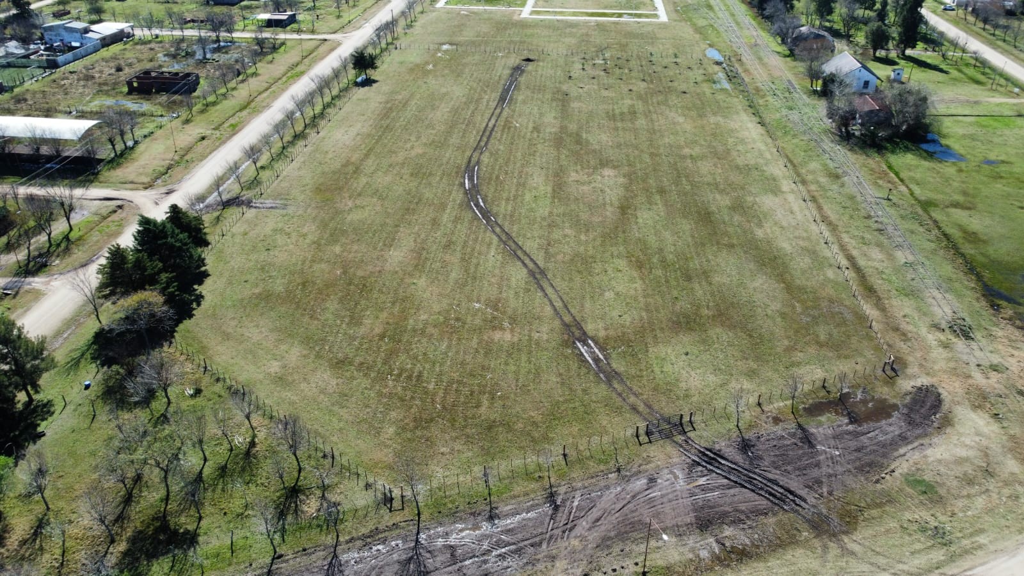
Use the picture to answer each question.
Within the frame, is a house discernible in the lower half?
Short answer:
No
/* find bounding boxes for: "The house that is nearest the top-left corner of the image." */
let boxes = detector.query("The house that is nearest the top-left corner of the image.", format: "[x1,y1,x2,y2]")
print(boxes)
[32,17,102,45]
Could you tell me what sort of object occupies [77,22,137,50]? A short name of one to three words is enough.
building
